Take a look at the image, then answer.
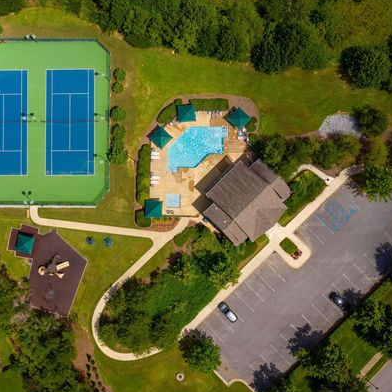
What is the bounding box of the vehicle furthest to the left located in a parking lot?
[216,300,239,323]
